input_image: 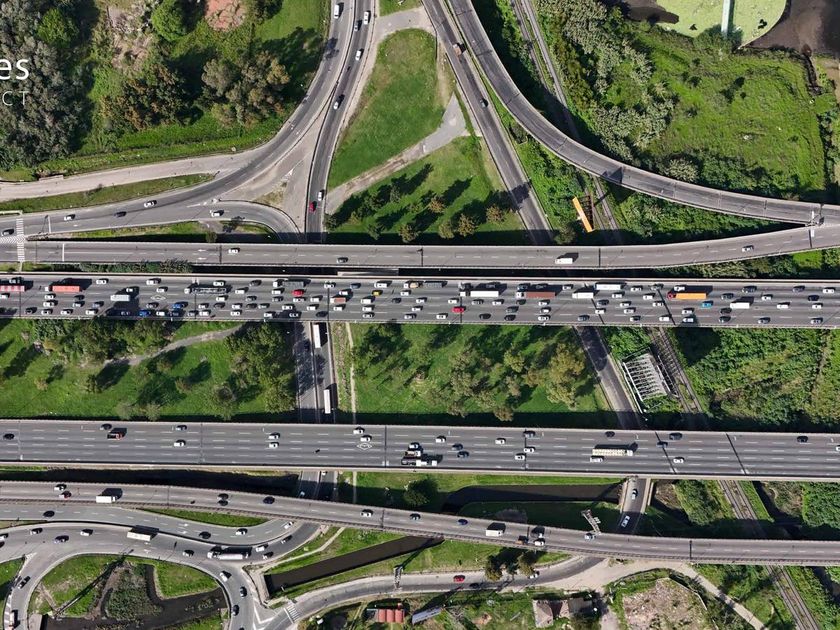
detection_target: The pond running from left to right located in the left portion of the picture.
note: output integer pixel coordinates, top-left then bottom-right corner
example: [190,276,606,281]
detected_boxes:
[44,562,229,630]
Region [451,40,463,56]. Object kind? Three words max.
vehicle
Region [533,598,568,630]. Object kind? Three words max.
house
